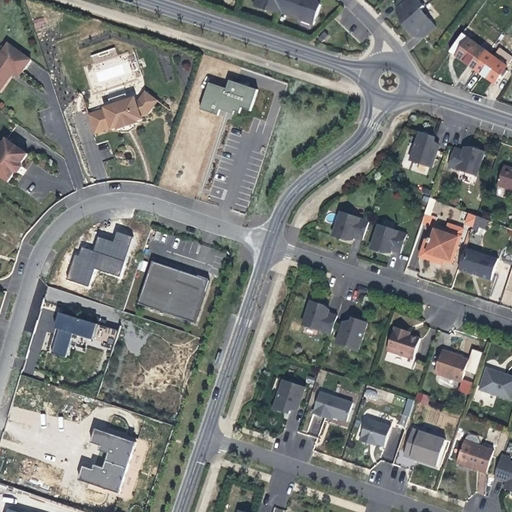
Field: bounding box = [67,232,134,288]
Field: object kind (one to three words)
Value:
building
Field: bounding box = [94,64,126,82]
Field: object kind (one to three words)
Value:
swimming pool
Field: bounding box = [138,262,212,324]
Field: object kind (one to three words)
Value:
building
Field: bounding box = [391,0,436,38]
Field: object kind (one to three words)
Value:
house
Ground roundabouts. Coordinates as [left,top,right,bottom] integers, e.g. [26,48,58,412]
[372,64,408,98]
